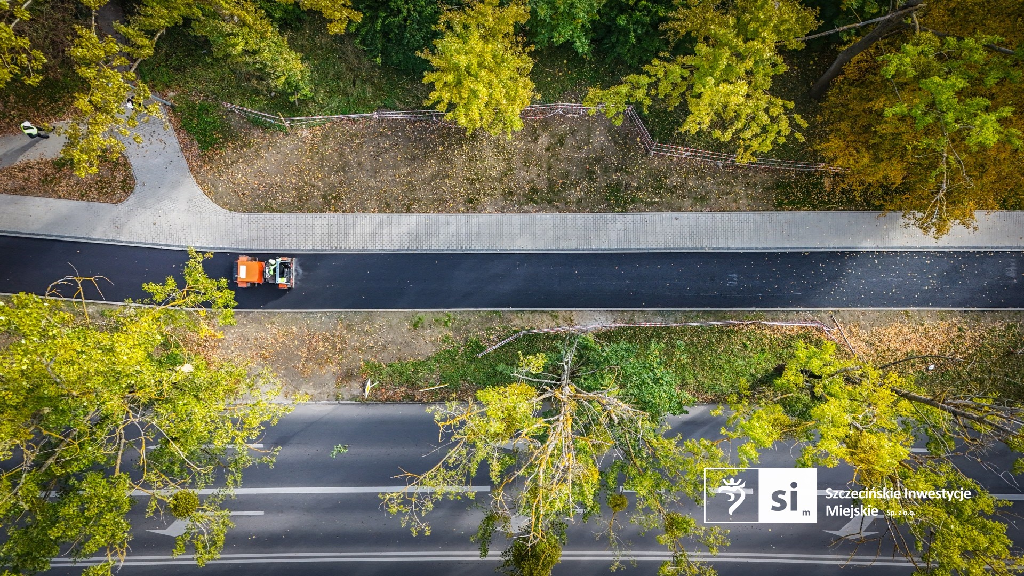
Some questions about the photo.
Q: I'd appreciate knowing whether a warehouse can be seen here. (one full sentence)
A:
No, I can't see a single warehouse in this photo.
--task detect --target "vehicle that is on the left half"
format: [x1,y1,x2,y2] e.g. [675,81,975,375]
[235,256,297,288]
